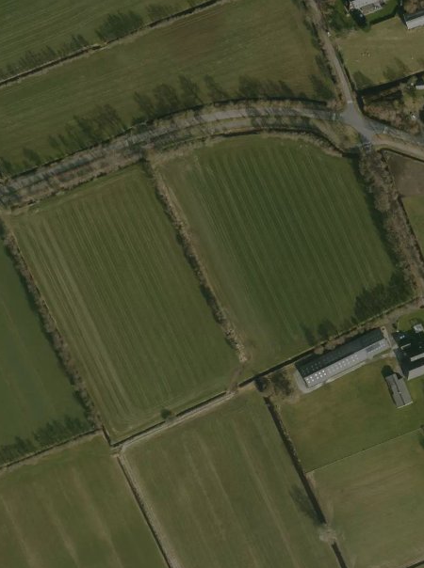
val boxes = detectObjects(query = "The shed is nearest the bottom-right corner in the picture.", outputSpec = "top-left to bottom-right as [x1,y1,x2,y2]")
[384,372,412,408]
